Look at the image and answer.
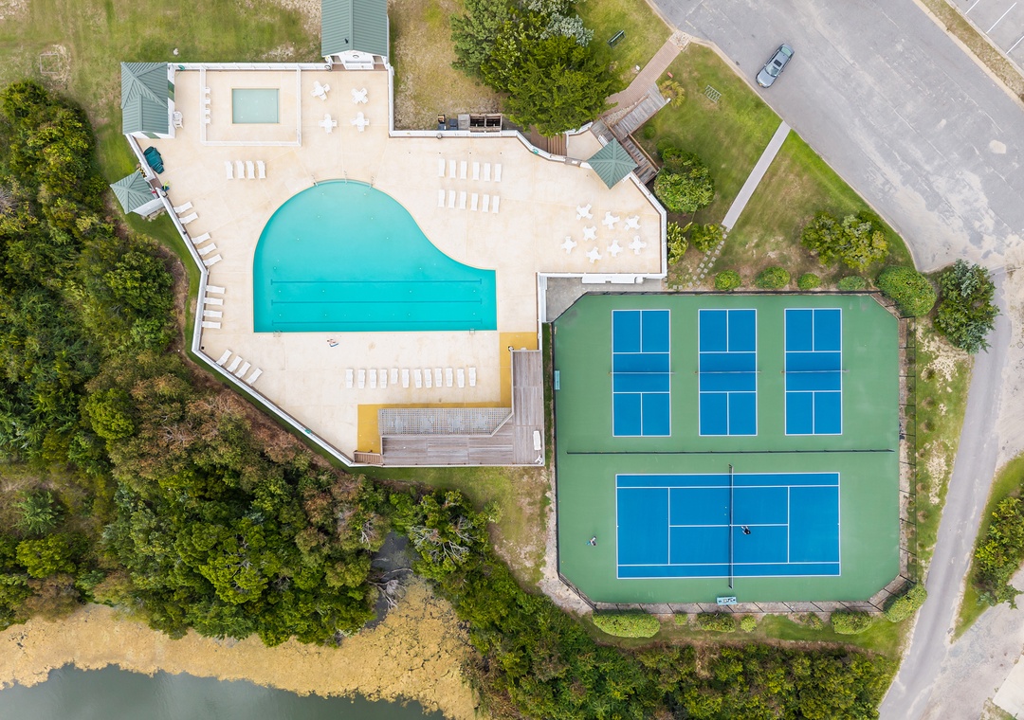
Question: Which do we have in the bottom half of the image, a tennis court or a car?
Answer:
tennis court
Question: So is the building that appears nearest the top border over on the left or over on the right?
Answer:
left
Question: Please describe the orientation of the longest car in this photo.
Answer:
diagonally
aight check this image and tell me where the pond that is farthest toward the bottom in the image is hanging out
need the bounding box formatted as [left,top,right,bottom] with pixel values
[0,532,464,720]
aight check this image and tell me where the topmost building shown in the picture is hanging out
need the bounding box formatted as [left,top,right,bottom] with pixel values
[321,0,389,69]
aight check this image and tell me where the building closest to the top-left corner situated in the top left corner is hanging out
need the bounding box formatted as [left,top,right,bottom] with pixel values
[120,61,174,138]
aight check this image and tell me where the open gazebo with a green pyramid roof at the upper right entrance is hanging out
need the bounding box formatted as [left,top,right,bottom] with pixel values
[588,138,638,190]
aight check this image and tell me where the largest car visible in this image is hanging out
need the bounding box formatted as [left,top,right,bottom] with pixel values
[758,40,797,85]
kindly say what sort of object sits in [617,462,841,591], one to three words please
tennis court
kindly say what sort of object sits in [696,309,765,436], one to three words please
sports court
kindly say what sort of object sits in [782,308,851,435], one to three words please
sports court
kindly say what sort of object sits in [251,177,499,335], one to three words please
swimming pool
